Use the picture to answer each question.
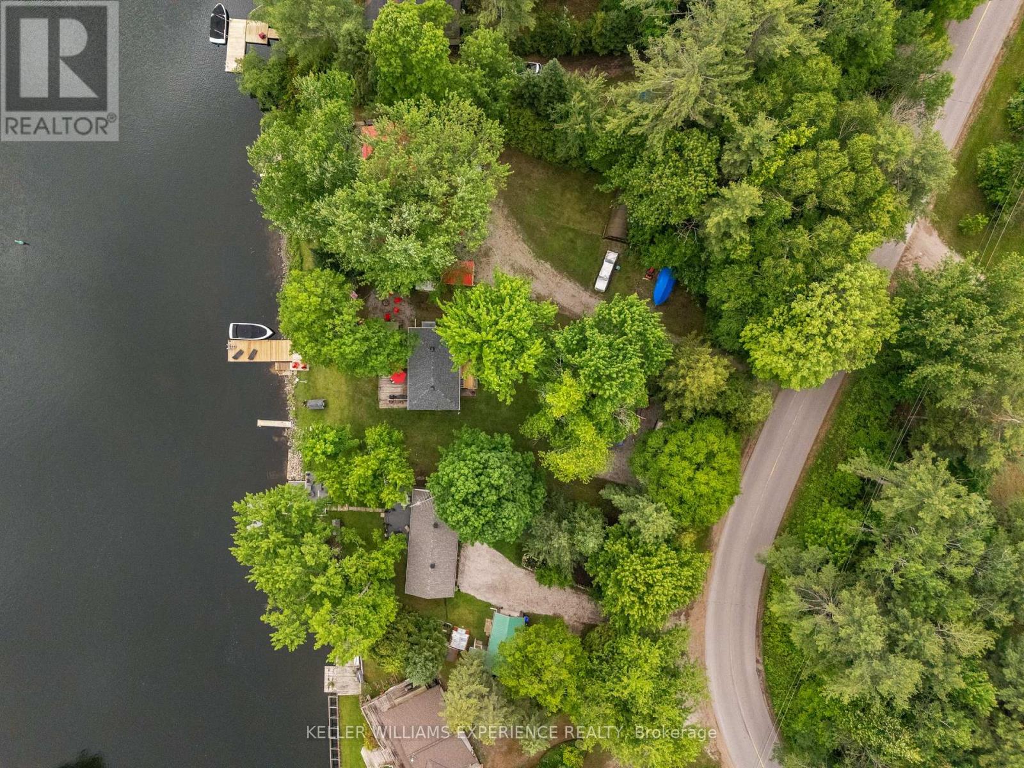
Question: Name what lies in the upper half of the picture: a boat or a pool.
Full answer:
You can see a boat in the upper half of the picture.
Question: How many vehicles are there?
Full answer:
In total, there are 2 vehicles in the scene.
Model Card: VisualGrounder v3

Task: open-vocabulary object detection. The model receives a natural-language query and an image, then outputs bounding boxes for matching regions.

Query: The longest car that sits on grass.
[596,250,618,294]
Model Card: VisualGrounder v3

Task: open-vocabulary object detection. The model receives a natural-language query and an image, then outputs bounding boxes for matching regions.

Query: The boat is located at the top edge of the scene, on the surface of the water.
[210,1,228,50]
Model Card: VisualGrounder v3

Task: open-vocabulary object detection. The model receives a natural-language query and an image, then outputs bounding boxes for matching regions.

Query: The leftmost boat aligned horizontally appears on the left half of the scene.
[230,323,276,340]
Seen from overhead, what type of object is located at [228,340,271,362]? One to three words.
pier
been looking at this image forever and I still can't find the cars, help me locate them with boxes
[596,250,618,294]
[510,58,545,78]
